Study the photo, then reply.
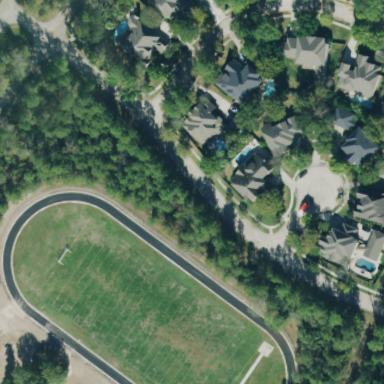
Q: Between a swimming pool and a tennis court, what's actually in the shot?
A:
swimming pool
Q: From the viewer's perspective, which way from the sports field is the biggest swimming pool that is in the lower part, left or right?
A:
to its right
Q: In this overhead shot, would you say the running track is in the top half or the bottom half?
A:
bottom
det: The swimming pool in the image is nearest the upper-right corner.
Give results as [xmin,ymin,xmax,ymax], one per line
[348,93,375,109]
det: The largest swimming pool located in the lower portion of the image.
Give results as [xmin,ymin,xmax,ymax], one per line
[350,256,382,278]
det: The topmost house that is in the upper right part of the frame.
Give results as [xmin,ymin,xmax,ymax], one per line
[284,36,332,70]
